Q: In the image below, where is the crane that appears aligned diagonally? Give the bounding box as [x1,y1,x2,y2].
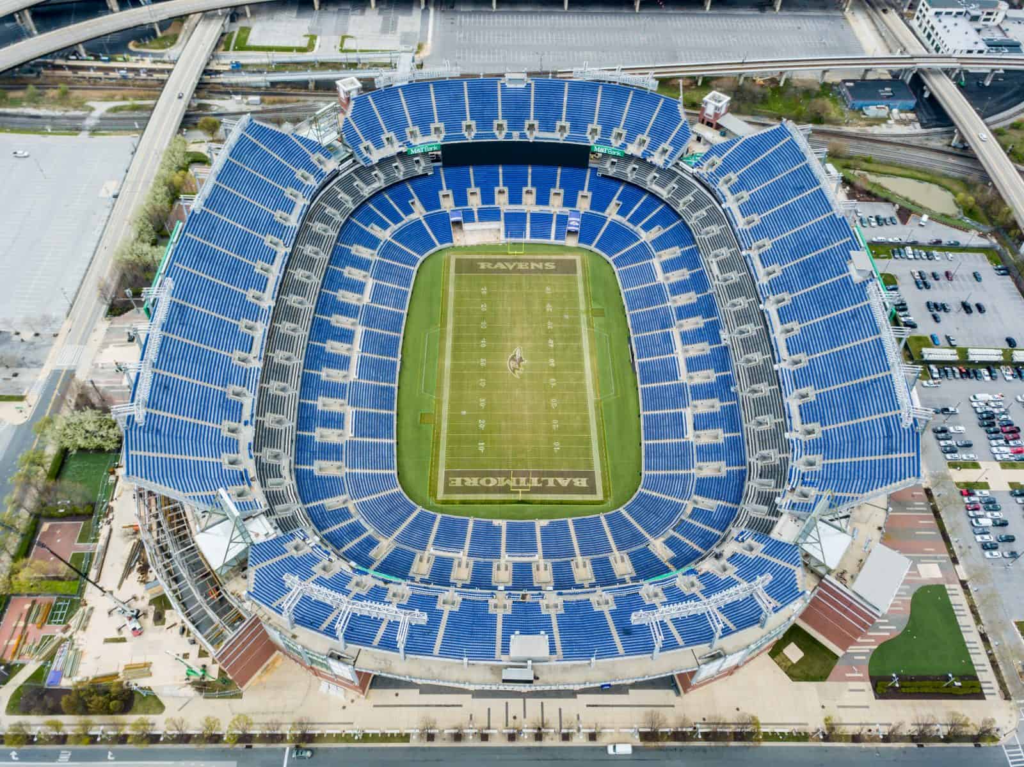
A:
[34,539,156,638]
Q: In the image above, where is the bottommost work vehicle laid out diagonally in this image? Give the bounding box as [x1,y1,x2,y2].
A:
[165,648,210,679]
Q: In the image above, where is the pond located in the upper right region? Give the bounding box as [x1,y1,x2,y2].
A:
[857,169,959,215]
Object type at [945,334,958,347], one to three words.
vehicle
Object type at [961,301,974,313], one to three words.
vehicle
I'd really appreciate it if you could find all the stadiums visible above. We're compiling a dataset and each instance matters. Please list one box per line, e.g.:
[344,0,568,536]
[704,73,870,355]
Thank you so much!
[122,75,923,693]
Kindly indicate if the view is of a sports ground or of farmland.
sports ground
